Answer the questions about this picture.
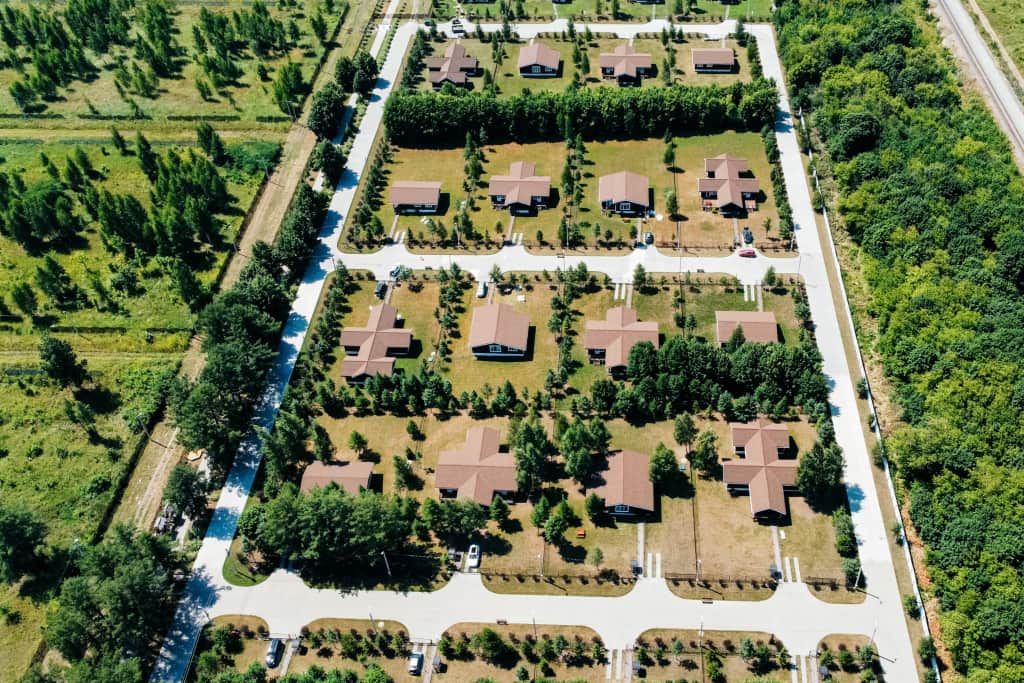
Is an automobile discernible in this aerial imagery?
Yes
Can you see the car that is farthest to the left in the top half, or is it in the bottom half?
bottom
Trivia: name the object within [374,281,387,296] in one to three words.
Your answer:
vehicle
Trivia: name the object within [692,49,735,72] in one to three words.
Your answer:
house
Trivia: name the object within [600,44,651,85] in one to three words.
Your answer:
house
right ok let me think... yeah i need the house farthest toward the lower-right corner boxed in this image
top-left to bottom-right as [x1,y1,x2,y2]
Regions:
[724,420,804,528]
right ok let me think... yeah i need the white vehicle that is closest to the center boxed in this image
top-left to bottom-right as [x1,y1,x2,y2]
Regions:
[475,282,487,297]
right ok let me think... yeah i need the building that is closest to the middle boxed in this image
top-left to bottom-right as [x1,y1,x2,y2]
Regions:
[467,303,531,362]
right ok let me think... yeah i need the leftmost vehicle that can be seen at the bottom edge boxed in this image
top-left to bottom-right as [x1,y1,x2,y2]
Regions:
[262,637,284,666]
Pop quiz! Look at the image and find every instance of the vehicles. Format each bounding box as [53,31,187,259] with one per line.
[374,281,387,296]
[452,24,466,32]
[738,248,756,256]
[388,265,401,277]
[407,646,425,675]
[262,637,284,666]
[466,543,481,568]
[743,229,753,242]
[645,233,653,244]
[451,19,463,24]
[475,282,487,297]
